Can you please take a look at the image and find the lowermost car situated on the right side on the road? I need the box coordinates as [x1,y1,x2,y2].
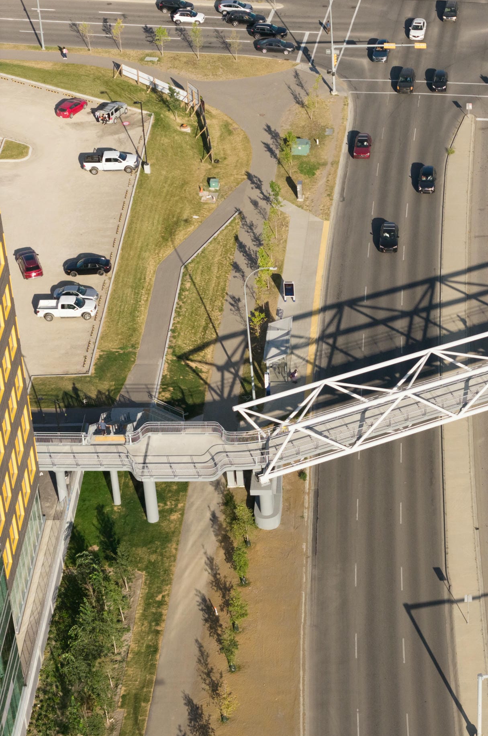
[378,222,399,251]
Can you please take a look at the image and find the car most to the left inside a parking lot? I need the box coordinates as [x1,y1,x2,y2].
[17,250,42,278]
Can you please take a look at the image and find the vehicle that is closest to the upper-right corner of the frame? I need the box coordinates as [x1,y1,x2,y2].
[442,0,459,21]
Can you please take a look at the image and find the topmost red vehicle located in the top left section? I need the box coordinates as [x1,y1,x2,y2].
[54,99,88,120]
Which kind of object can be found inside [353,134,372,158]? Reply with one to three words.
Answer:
car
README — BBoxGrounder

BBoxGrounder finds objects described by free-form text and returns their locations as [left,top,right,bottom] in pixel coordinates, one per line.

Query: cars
[217,0,254,15]
[378,222,399,251]
[51,283,101,299]
[256,39,295,55]
[170,7,208,24]
[442,0,459,21]
[371,39,389,62]
[431,70,448,92]
[409,20,426,40]
[64,257,111,277]
[353,134,372,158]
[93,99,130,123]
[156,0,193,13]
[227,10,266,26]
[54,99,88,120]
[17,250,42,278]
[417,166,436,193]
[396,64,416,93]
[250,21,288,40]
